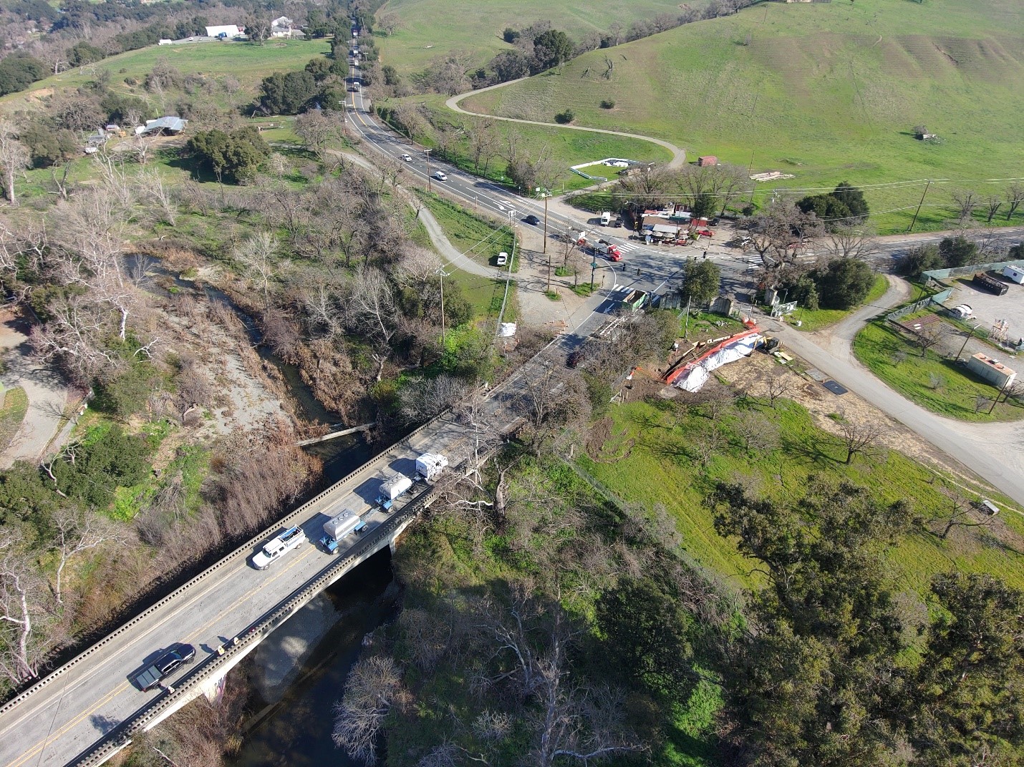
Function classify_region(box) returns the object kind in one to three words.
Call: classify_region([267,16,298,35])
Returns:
house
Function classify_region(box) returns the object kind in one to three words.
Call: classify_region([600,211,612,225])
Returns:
vehicle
